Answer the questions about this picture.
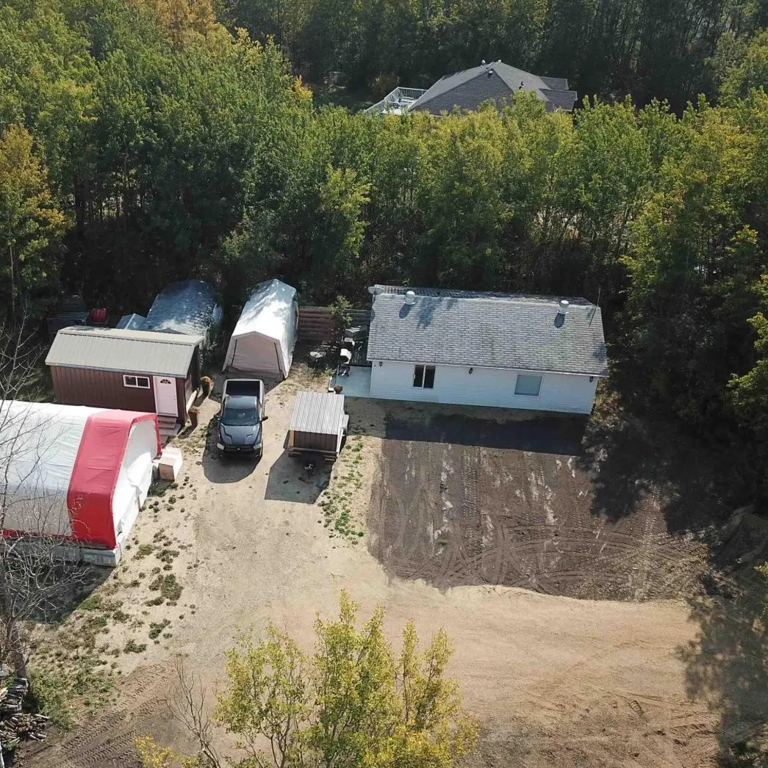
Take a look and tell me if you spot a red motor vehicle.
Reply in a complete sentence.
No, the picture doesn't show any red motor vehicle.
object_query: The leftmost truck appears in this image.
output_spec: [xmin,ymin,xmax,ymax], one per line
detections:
[211,375,267,459]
